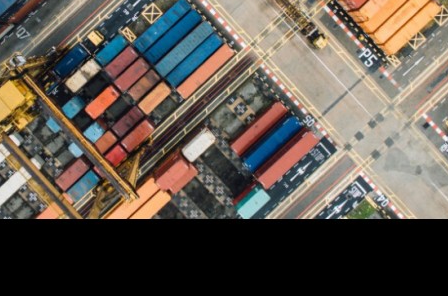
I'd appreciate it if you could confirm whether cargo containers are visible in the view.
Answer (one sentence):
Yes, there's a cargo container down there.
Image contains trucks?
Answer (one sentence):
Yes, I can see a truck in this picture.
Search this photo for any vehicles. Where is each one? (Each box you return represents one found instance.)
[279,0,327,45]
[81,27,106,53]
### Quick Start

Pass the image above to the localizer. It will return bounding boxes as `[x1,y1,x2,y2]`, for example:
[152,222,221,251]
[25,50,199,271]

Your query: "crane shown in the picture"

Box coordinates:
[0,41,151,243]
